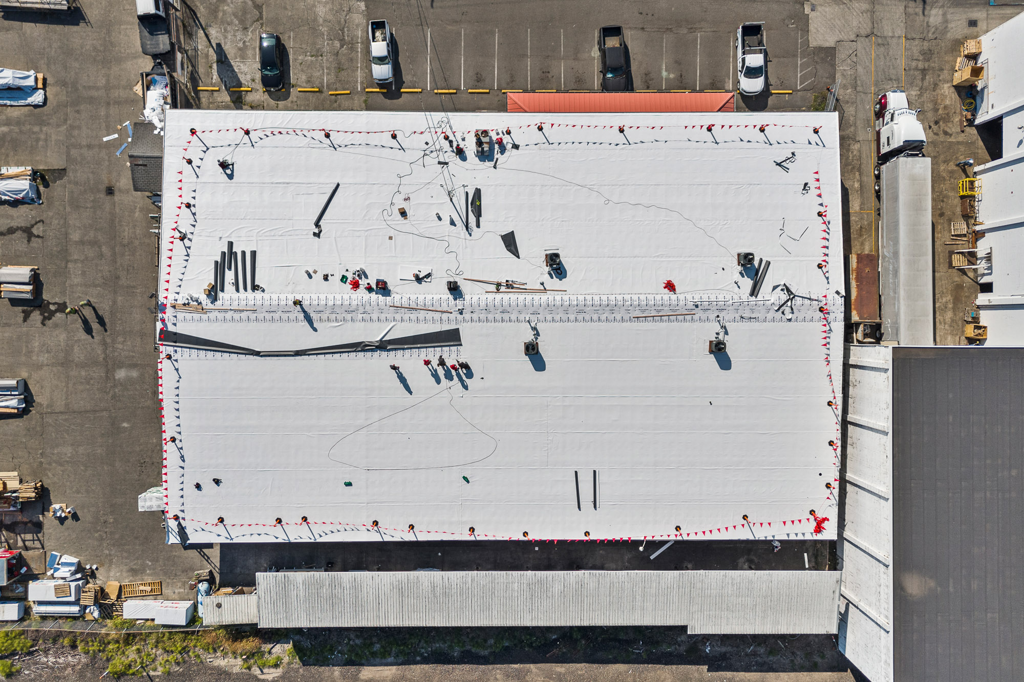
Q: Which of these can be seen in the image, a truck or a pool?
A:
truck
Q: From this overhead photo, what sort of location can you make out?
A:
industrial area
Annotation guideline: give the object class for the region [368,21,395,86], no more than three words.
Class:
truck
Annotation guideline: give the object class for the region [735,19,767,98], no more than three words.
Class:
truck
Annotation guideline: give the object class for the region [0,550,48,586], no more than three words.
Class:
trailer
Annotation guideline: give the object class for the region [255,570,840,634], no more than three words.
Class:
shed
